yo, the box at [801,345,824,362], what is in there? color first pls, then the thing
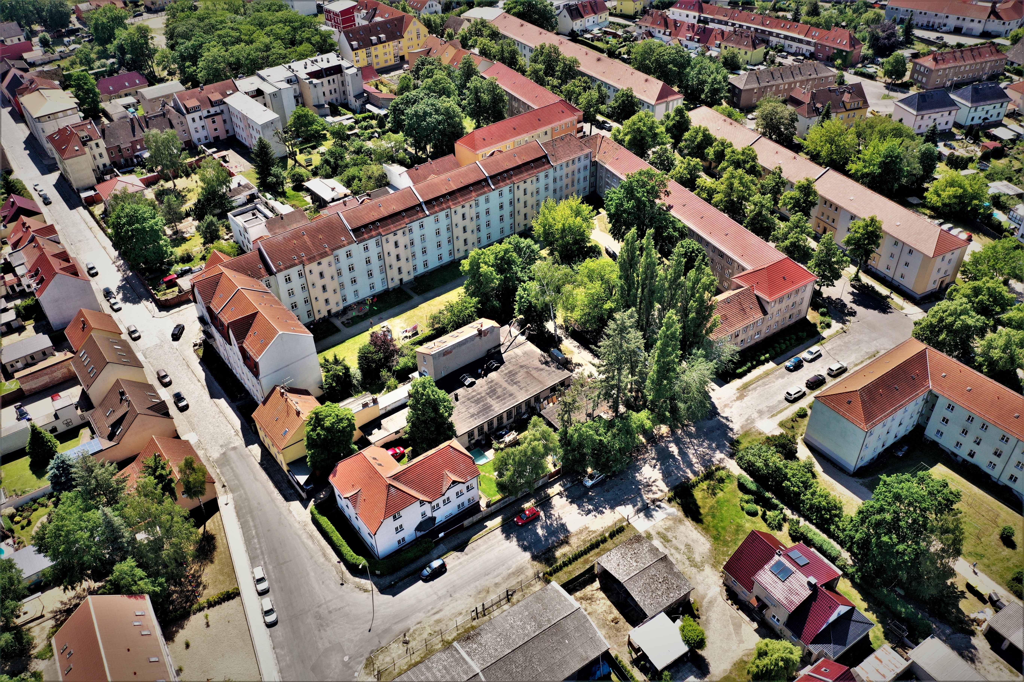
white car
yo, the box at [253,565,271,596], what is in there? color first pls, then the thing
white car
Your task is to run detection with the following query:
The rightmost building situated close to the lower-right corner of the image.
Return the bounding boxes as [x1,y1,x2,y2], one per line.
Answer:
[986,603,1024,667]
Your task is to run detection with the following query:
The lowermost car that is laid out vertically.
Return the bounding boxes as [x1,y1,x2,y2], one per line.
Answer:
[260,596,279,628]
